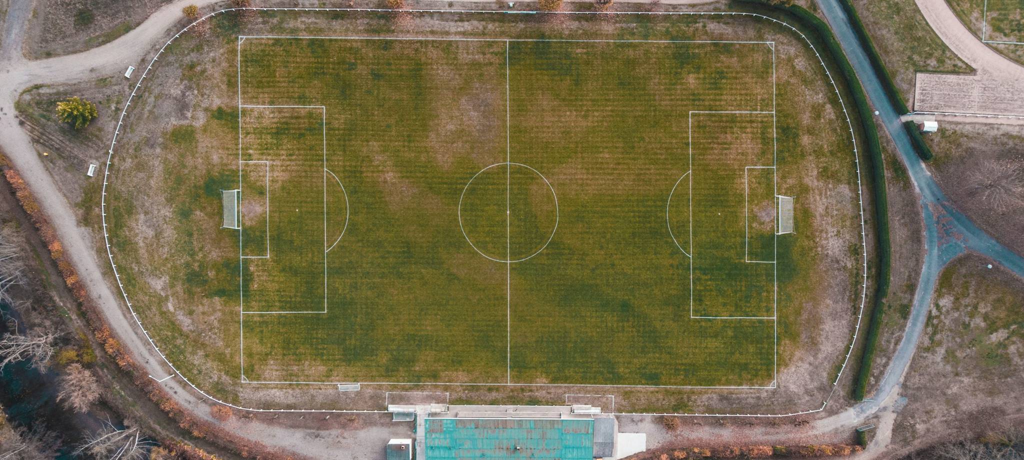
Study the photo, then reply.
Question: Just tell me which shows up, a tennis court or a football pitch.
football pitch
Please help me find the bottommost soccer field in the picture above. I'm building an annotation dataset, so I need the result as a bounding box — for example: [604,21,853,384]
[235,31,780,406]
